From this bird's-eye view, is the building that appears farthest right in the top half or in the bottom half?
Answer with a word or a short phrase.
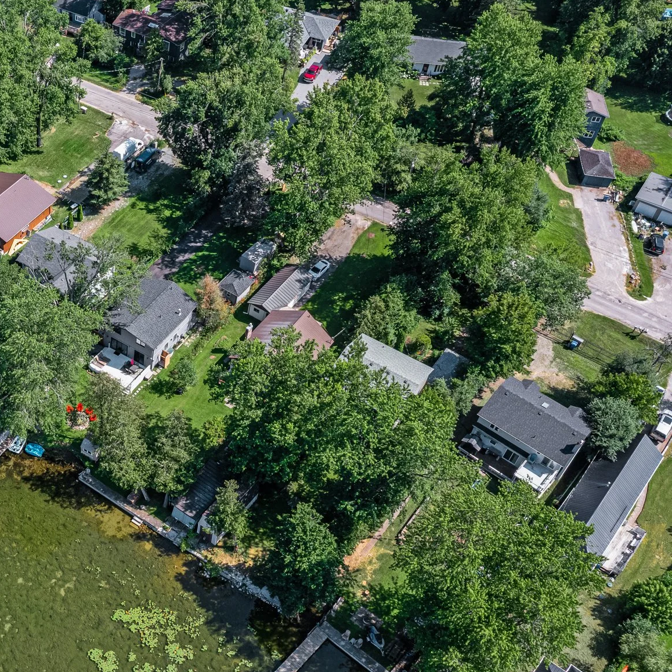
top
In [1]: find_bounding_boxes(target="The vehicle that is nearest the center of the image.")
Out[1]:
[308,260,332,284]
